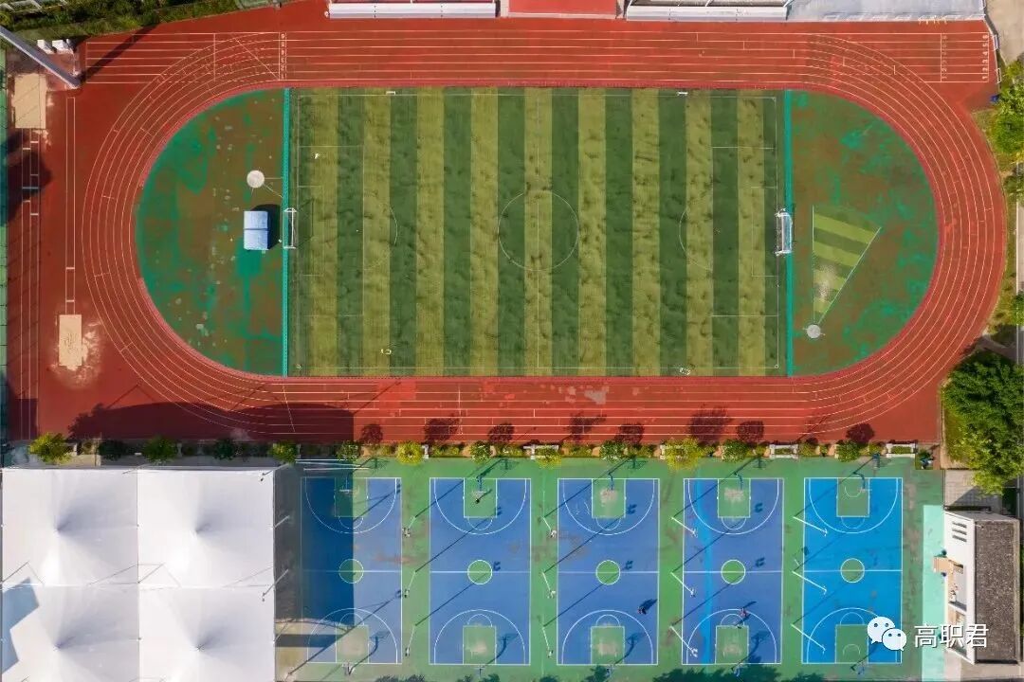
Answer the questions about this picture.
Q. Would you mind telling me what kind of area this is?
sports ground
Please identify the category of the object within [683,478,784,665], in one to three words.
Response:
basketball court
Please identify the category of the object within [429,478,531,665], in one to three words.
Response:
basketball court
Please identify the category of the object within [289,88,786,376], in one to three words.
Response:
soccer field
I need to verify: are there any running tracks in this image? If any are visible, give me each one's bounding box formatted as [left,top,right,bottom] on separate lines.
[8,0,1006,442]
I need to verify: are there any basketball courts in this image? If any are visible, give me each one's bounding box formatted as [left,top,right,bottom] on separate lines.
[557,478,659,665]
[683,478,784,665]
[301,477,402,664]
[429,478,531,665]
[803,477,903,664]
